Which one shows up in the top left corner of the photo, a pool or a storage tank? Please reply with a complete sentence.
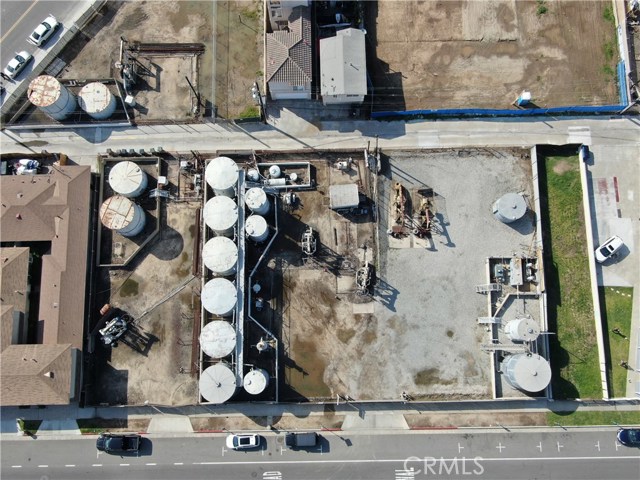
The feature located in the top left corner of the photo is a storage tank.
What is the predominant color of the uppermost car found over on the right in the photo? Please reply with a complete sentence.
From above, the uppermost car found over on the right appears white.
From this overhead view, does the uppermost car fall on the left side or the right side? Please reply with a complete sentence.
You can find the uppermost car on the left side of the picture.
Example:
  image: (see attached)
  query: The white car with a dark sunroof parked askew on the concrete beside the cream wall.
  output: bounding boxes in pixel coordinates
[597,234,629,261]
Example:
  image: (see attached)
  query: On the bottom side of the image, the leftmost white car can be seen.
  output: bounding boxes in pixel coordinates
[226,433,259,451]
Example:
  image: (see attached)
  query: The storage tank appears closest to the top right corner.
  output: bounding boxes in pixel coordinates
[491,190,527,224]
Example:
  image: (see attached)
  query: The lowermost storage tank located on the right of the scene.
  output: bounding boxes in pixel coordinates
[502,354,552,396]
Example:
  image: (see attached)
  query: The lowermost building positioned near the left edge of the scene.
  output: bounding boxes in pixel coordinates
[0,344,80,406]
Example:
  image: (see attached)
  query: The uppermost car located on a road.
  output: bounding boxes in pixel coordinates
[26,16,57,42]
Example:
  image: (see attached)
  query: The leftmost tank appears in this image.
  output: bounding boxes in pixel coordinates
[24,73,78,121]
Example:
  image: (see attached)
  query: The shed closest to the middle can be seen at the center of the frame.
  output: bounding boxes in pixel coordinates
[330,184,366,216]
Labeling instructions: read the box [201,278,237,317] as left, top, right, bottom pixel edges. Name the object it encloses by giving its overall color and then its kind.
white storage tank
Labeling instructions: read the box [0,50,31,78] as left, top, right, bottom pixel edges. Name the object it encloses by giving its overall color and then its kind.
white car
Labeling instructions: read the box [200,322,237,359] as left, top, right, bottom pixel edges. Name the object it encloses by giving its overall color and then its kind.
white storage tank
